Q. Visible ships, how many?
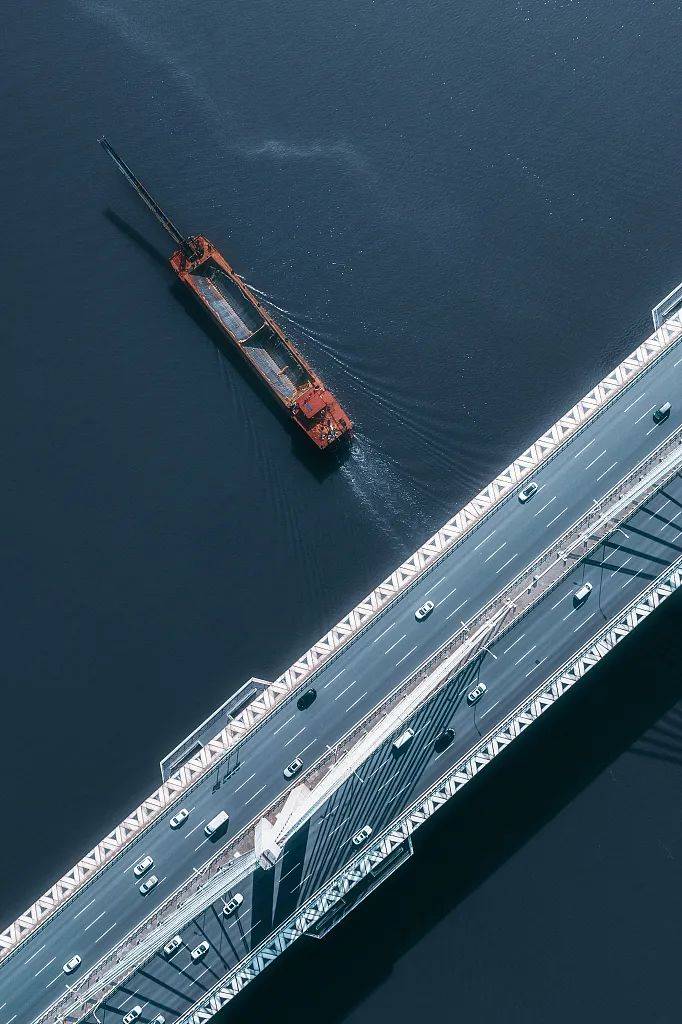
1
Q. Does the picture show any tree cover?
No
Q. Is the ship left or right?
left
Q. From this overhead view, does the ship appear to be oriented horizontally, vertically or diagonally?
diagonally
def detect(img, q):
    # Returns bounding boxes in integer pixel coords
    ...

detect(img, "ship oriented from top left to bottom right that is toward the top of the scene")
[96,137,353,449]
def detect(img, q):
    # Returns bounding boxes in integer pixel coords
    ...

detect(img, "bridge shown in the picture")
[0,281,682,1024]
